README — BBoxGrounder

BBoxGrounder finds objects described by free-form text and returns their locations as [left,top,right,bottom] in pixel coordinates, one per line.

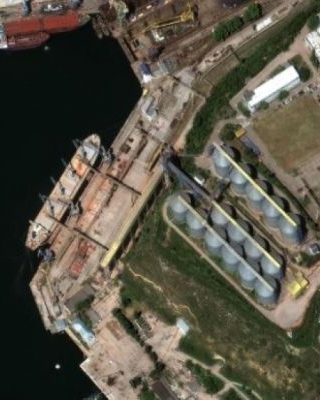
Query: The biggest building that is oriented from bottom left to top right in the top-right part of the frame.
[253,65,299,102]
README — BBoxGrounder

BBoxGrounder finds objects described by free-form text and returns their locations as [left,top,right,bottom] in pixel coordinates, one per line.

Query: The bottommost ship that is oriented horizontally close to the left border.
[0,31,52,50]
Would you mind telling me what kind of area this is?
port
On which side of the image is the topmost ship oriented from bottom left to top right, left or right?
left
